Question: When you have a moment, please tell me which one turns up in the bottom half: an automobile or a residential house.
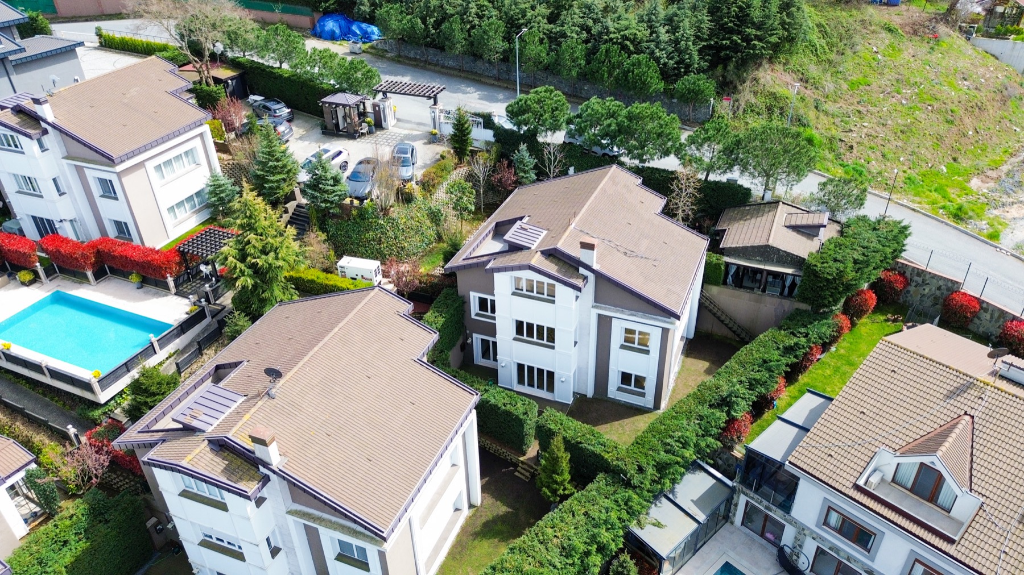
residential house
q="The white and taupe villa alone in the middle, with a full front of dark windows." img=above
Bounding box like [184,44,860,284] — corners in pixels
[444,163,709,410]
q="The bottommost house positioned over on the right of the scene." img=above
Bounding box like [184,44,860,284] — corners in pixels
[728,320,1024,575]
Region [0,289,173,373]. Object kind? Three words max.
swimming pool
